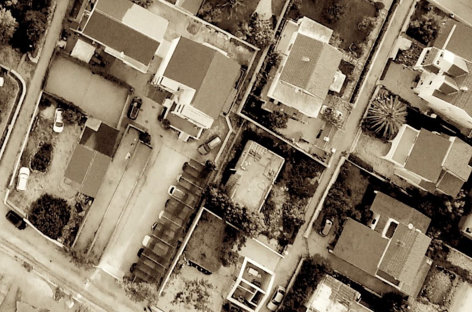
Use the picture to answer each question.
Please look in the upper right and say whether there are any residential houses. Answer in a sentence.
Yes, a residential house shows up in the upper right.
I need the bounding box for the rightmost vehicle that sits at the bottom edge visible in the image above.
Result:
[265,282,286,312]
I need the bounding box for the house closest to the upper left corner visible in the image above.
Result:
[78,0,169,73]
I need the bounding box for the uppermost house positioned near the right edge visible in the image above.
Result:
[405,16,472,126]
